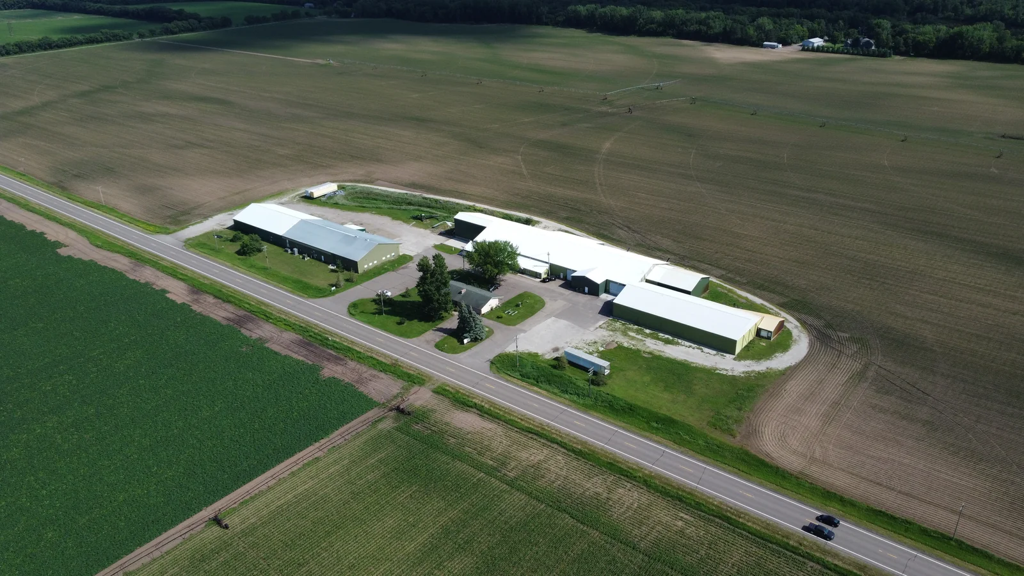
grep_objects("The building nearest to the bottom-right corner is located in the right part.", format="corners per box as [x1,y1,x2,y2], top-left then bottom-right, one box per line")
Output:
[612,281,787,356]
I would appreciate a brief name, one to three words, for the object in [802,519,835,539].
vehicle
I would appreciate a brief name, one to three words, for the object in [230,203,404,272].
barn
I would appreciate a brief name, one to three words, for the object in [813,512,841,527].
car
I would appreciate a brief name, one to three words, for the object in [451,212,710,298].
shed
